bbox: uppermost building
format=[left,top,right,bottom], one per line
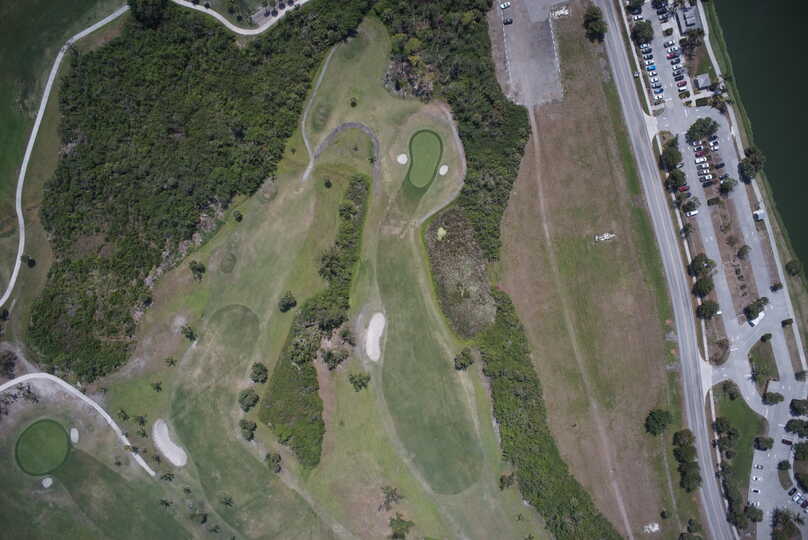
[675,6,703,36]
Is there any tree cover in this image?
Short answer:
Yes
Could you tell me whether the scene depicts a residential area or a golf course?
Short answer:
golf course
